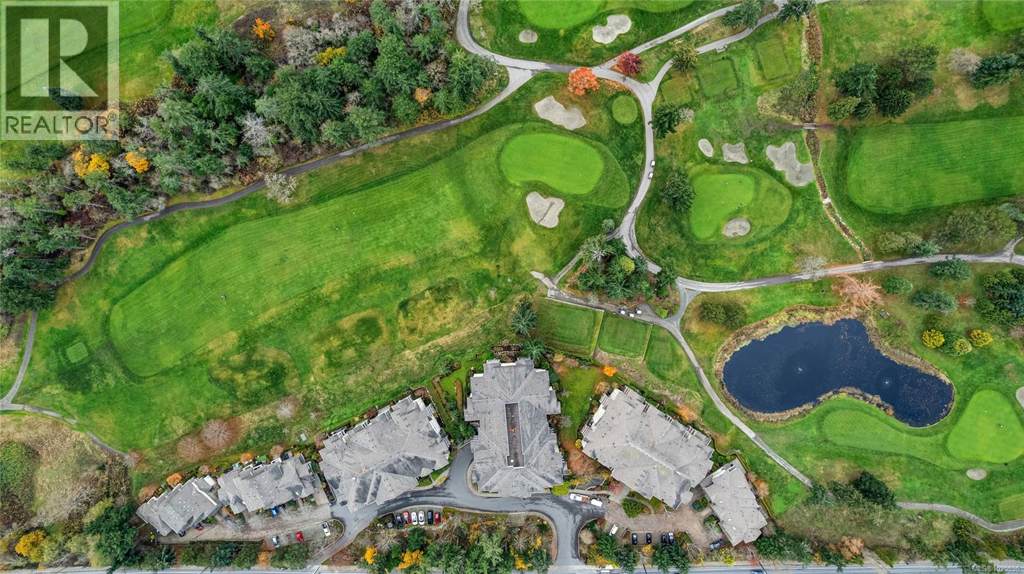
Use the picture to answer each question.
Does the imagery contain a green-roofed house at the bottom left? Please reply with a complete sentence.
No, no green-roofed house can be made out at the bottom left.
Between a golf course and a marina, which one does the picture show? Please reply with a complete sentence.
It's a golf course.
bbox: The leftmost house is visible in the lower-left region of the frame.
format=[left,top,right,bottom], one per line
[136,471,224,542]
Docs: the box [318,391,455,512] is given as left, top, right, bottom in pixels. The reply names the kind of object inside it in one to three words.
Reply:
building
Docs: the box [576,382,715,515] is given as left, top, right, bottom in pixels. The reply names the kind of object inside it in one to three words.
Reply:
building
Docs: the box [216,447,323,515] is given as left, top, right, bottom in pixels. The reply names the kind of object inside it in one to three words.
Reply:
house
